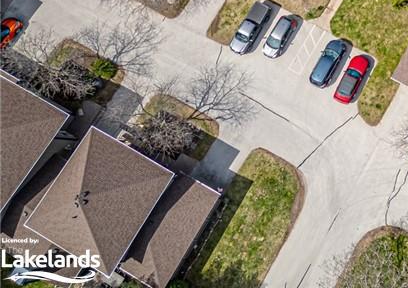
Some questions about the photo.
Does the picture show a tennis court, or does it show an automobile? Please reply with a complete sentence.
The image shows an automobile.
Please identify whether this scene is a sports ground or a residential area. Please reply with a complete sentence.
This looks like a residential area.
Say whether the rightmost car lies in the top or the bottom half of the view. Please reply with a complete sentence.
The top half of the photo is where the rightmost car is.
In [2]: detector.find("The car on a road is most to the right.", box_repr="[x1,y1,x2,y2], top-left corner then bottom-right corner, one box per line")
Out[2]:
[333,56,368,103]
